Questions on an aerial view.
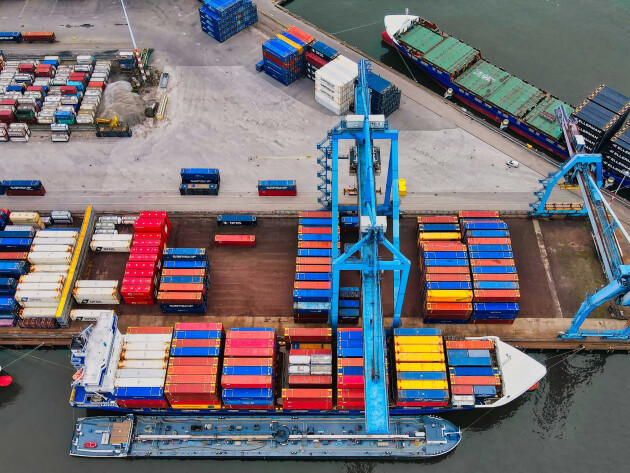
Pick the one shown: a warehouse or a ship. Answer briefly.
ship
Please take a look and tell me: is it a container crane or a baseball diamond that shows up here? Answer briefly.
container crane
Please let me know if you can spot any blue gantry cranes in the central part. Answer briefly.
Yes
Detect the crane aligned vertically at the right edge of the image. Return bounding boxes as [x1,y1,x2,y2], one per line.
[531,99,630,334]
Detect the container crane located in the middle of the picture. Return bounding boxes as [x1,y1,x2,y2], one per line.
[315,60,411,433]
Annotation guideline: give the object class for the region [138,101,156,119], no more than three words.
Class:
vehicle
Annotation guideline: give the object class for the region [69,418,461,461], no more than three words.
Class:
ship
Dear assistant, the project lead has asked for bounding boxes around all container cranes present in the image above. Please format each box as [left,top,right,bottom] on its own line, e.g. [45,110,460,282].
[315,60,411,433]
[531,99,630,334]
